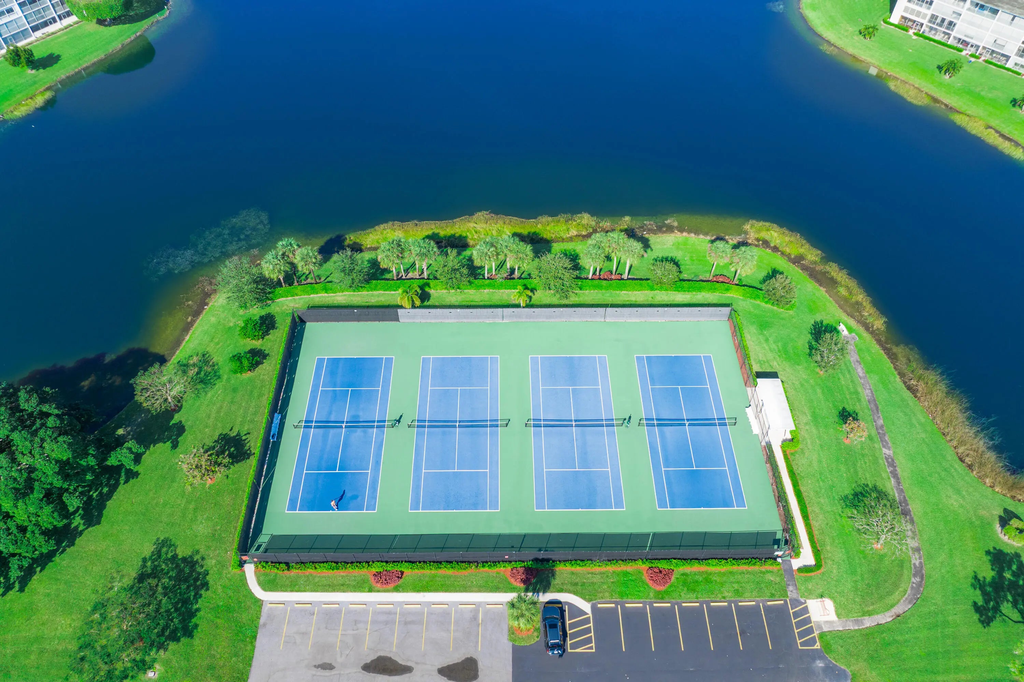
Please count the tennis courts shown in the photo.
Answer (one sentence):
My tally gives 4 tennis courts in this view.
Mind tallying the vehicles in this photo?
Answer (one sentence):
The picture shows just 1 vehicle.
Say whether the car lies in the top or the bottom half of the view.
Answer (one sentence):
The bottom half of the photo is where the car is.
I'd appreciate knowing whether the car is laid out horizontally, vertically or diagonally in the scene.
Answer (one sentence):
In this picture, the car lies vertically.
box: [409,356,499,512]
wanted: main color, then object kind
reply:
blue tennis court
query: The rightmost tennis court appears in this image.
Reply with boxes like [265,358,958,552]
[635,355,747,509]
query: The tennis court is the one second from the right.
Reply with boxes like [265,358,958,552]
[530,355,625,510]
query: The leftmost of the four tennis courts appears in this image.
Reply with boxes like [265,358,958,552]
[285,356,394,513]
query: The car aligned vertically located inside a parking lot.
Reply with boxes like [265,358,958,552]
[542,608,563,655]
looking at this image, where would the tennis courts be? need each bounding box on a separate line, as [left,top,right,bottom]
[409,356,499,512]
[530,355,625,510]
[285,356,394,513]
[635,355,747,509]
